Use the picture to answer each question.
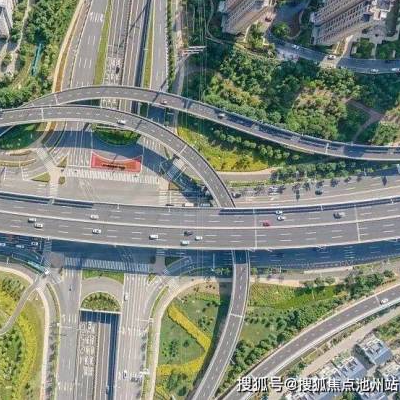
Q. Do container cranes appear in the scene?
No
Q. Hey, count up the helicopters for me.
0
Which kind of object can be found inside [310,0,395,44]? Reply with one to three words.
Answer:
building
